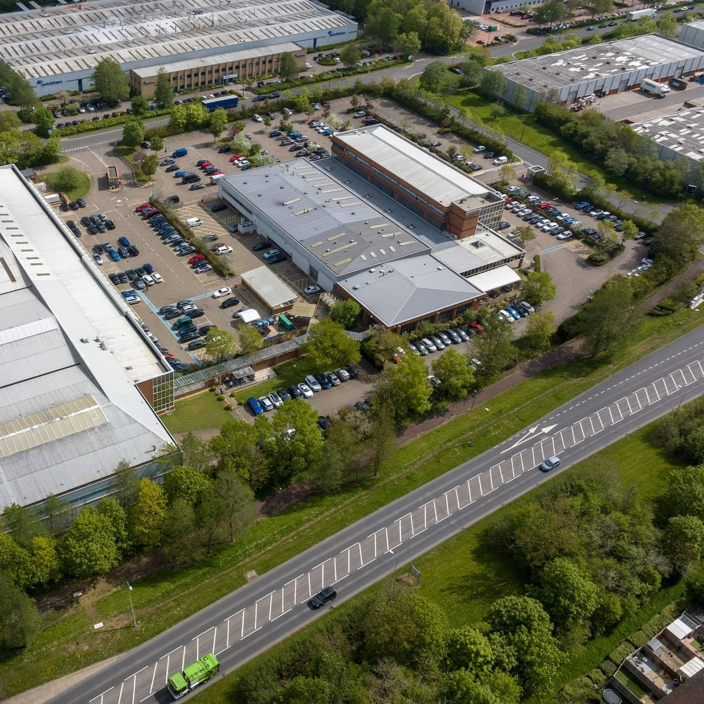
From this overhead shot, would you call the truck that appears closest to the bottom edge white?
No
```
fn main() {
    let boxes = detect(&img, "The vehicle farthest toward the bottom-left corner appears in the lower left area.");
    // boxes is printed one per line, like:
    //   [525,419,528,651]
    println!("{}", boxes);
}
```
[160,652,222,704]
